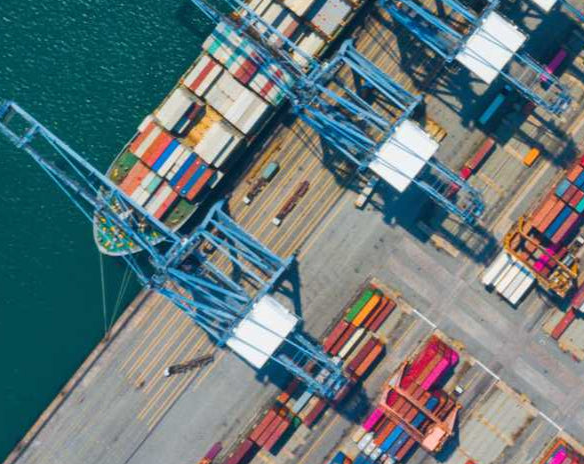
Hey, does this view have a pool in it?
No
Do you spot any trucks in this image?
Yes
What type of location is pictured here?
port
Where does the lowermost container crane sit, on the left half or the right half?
right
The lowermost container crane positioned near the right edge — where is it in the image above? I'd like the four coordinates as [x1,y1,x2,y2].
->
[496,213,578,297]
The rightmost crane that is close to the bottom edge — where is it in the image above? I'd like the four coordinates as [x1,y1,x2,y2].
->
[376,360,459,452]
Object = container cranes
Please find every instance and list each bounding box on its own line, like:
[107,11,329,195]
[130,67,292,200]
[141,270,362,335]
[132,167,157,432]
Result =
[374,0,581,120]
[376,360,459,452]
[0,99,359,399]
[185,0,496,227]
[496,213,578,297]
